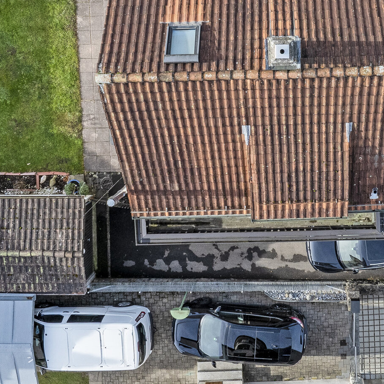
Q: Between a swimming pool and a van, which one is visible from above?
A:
van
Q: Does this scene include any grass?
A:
Yes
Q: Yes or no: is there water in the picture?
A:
No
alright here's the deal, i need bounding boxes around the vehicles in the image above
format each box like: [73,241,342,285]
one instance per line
[303,238,384,281]
[170,307,308,382]
[33,309,155,382]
